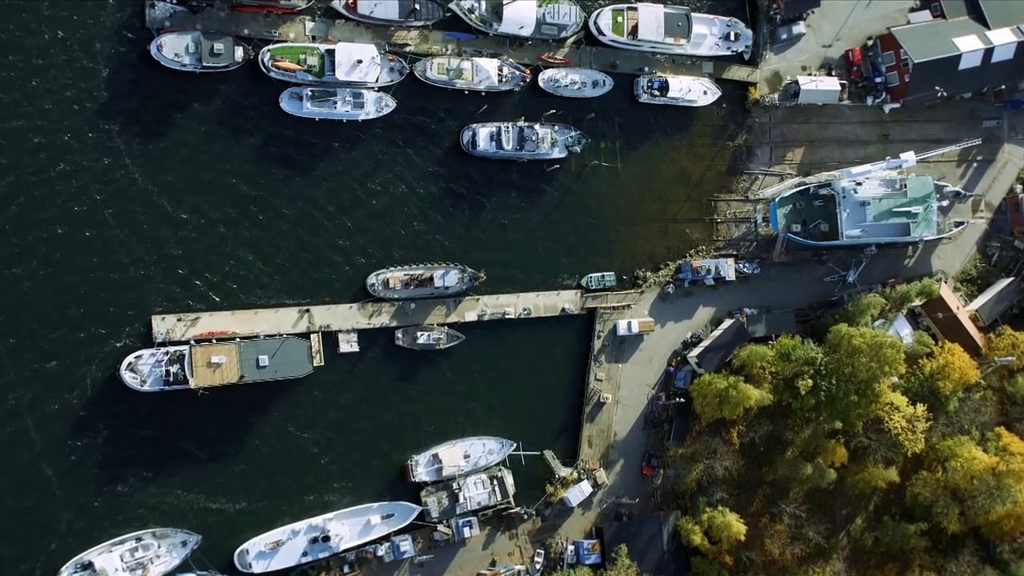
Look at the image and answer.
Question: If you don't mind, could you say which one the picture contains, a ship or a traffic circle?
ship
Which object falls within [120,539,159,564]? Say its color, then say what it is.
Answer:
white boat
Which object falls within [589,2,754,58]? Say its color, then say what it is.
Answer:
white boat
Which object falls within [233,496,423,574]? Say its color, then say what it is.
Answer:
white ship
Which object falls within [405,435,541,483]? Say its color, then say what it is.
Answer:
white vessel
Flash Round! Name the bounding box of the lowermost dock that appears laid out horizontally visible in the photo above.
[152,290,585,342]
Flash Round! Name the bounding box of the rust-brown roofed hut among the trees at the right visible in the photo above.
[915,281,981,354]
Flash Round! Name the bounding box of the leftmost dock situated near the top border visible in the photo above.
[146,0,724,80]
